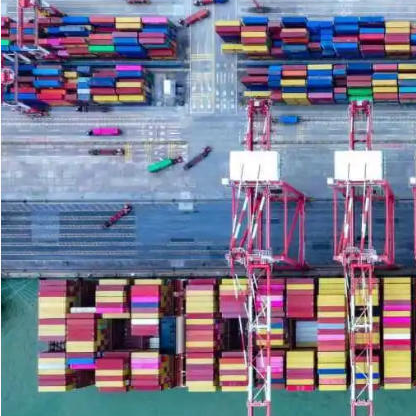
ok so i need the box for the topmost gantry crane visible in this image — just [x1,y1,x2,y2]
[13,0,67,64]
